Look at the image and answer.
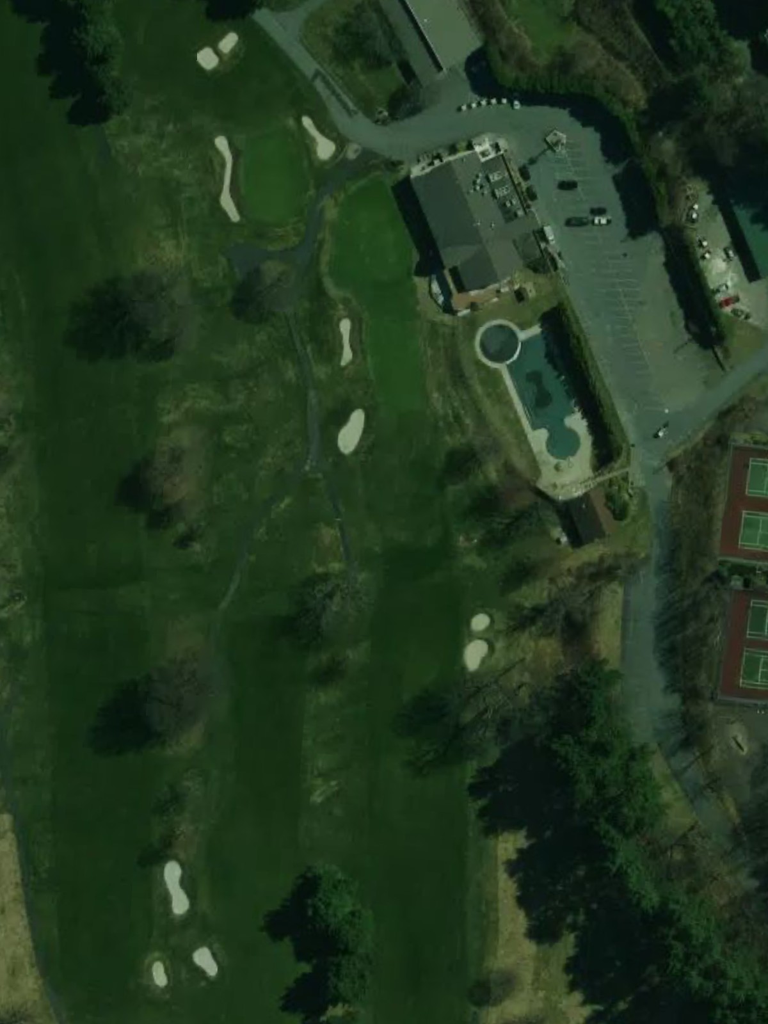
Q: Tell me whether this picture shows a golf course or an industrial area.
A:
golf course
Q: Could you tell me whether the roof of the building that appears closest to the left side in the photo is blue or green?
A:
green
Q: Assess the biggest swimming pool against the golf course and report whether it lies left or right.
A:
to the right of it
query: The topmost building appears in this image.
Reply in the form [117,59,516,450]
[406,0,483,69]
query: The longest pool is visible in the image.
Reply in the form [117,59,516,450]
[502,325,598,502]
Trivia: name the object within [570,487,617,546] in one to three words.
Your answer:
building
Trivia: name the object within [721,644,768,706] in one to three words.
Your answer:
tennis court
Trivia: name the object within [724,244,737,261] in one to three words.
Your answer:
vehicle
